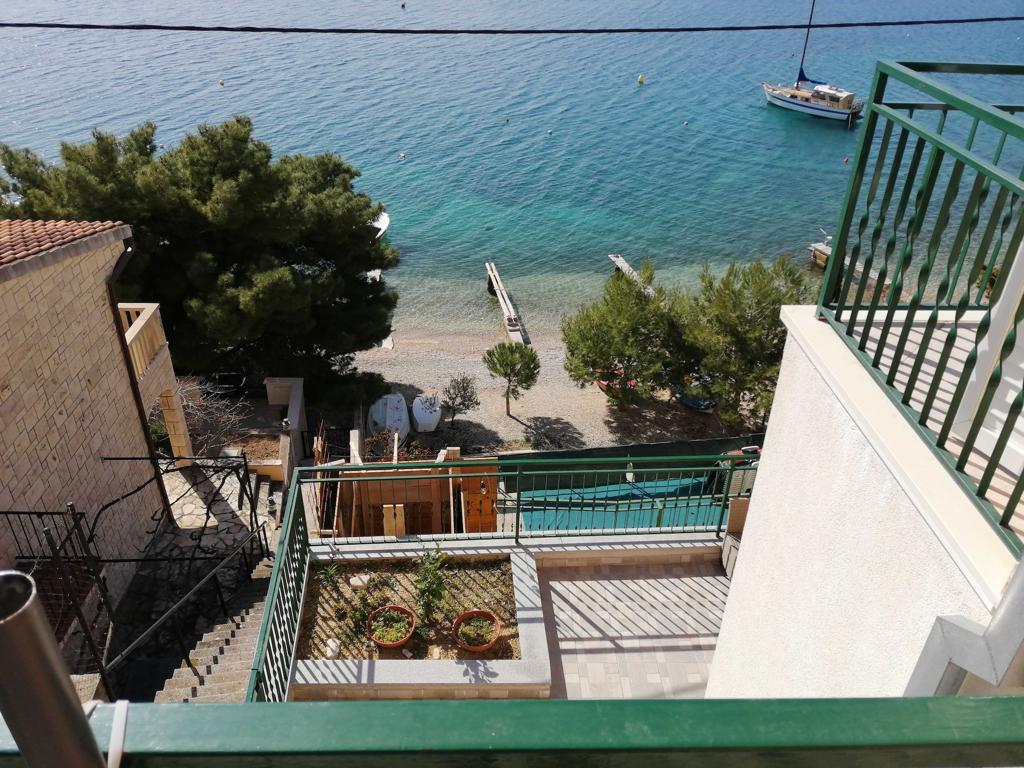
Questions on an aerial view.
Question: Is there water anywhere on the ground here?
Yes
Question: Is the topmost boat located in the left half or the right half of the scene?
right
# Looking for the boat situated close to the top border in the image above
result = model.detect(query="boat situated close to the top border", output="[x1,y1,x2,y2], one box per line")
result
[752,0,870,122]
